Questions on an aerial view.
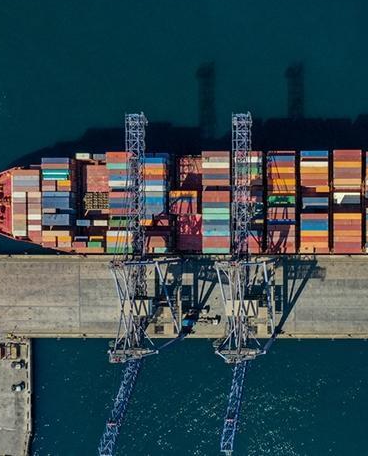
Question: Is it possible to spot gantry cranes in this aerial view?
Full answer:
Yes, the photo shows a gantry crane.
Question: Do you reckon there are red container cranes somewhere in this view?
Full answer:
No, I can see no red container crane in this picture.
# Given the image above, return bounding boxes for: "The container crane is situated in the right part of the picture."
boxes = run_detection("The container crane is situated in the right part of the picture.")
[215,112,284,456]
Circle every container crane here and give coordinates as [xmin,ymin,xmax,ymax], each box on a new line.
[215,112,284,456]
[90,112,193,456]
